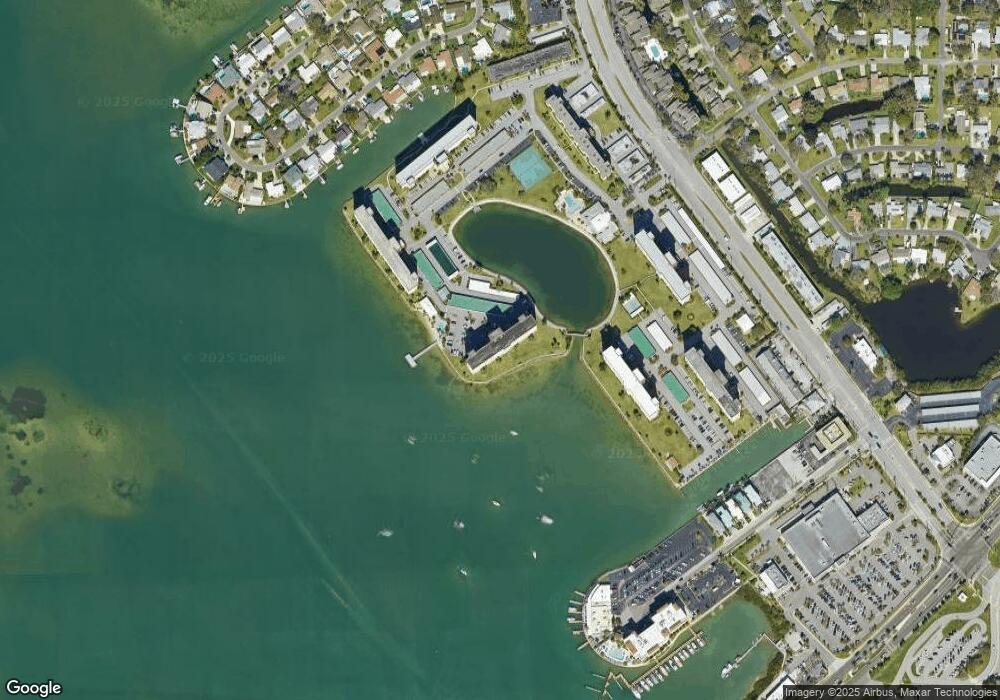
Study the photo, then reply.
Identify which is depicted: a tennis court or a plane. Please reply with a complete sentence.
The image shows a tennis court.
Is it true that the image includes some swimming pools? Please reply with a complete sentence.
Yes, the picture does show a swimming pool.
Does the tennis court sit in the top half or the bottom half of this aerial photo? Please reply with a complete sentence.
The tennis court is in the top half of the image.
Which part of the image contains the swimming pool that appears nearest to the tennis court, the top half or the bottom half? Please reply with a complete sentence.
The swimming pool that appears nearest to the tennis court sits in the top half of the picture.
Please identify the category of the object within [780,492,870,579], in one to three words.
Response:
building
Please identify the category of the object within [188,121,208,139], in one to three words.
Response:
house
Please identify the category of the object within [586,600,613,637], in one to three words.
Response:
building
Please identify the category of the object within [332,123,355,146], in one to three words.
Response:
house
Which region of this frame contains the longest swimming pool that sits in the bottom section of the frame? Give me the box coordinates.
[589,638,627,663]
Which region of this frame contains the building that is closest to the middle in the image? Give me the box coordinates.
[467,312,538,376]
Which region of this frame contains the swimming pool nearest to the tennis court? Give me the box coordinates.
[555,189,585,214]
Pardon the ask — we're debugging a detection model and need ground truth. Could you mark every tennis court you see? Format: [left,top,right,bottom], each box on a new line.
[509,144,553,190]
